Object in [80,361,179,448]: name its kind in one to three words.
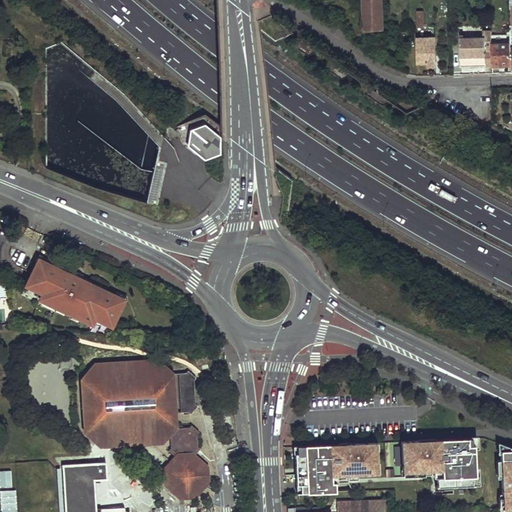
building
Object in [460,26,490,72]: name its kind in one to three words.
house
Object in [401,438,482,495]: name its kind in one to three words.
building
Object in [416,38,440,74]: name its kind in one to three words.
house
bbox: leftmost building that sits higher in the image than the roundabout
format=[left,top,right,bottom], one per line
[188,126,222,161]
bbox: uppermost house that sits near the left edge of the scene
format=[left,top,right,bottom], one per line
[22,258,127,330]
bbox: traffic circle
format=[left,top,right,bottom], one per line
[205,236,321,353]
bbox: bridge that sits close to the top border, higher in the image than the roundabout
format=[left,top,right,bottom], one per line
[217,0,280,196]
